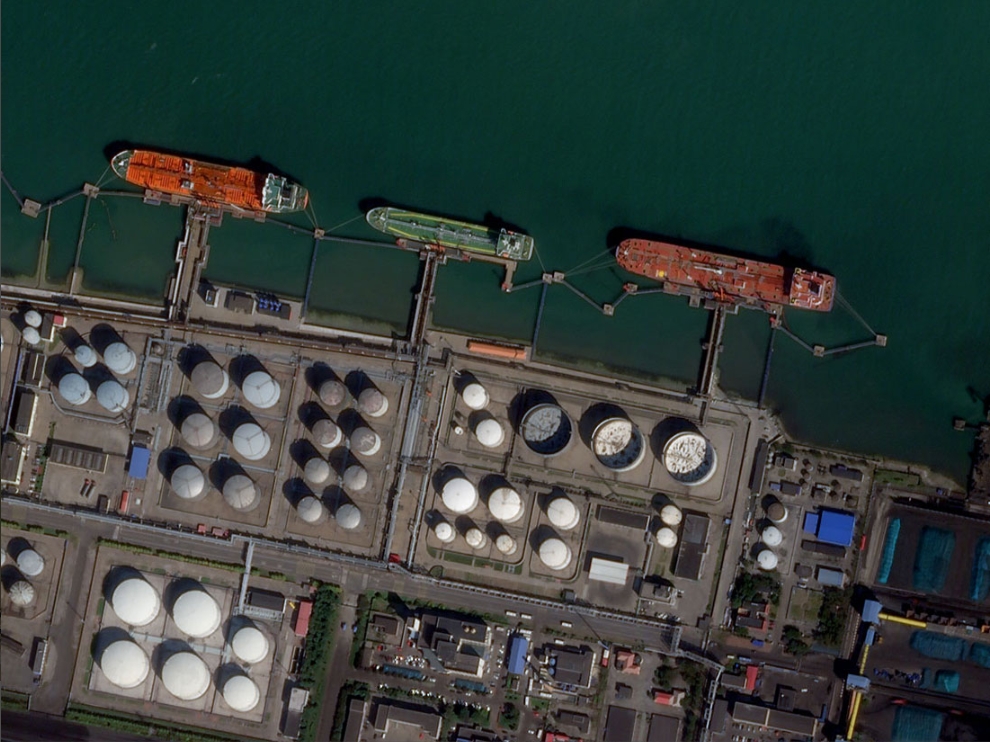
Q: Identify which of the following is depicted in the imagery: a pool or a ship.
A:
ship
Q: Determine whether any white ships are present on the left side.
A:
No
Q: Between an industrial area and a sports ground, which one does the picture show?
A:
industrial area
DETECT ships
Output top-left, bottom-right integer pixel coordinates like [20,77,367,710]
[111,149,309,215]
[615,238,835,313]
[366,207,535,261]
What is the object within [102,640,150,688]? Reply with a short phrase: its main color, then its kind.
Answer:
white storage tank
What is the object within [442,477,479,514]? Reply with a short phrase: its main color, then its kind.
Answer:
white storage tank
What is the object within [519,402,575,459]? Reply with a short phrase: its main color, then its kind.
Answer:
gray storage tank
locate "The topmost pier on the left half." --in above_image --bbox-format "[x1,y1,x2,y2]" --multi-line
[144,189,265,226]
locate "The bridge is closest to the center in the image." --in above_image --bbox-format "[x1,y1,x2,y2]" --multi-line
[413,253,438,347]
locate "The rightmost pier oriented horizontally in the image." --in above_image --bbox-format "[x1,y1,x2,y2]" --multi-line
[663,282,782,314]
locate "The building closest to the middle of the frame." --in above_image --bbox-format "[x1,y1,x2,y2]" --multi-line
[470,342,526,359]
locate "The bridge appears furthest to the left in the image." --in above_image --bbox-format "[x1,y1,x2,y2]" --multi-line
[164,209,210,319]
